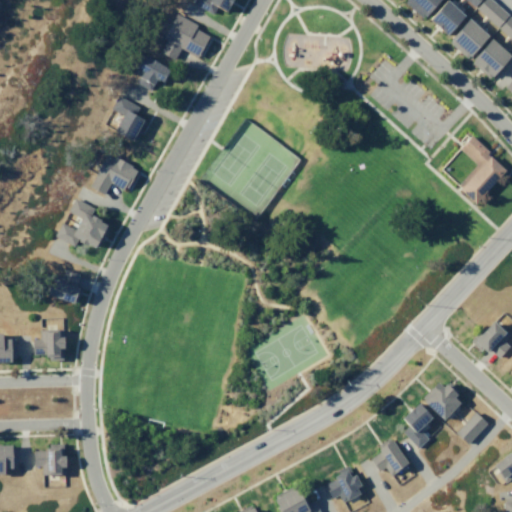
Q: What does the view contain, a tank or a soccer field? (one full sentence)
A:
It is a soccer field that can be seen here.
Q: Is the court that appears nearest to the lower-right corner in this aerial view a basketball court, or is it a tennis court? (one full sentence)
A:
It turns out the court that appears nearest to the lower-right corner is a basketball court.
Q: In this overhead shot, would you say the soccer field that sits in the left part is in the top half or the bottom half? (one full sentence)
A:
You can find the soccer field that sits in the left part in the bottom half.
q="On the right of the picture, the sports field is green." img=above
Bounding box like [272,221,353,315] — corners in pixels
[310,148,444,342]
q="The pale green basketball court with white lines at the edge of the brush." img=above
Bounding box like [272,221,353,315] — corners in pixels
[246,316,326,390]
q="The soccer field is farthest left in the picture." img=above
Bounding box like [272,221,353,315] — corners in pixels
[105,258,244,431]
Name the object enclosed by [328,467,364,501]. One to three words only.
house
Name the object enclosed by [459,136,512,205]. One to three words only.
building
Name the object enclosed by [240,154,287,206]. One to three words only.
tennis court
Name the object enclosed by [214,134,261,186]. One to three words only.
tennis court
